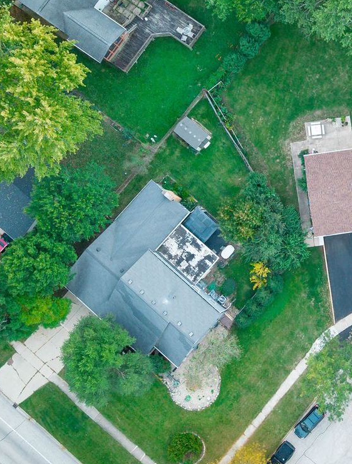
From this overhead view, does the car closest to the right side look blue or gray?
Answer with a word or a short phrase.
blue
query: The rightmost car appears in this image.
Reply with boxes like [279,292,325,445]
[292,408,325,442]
